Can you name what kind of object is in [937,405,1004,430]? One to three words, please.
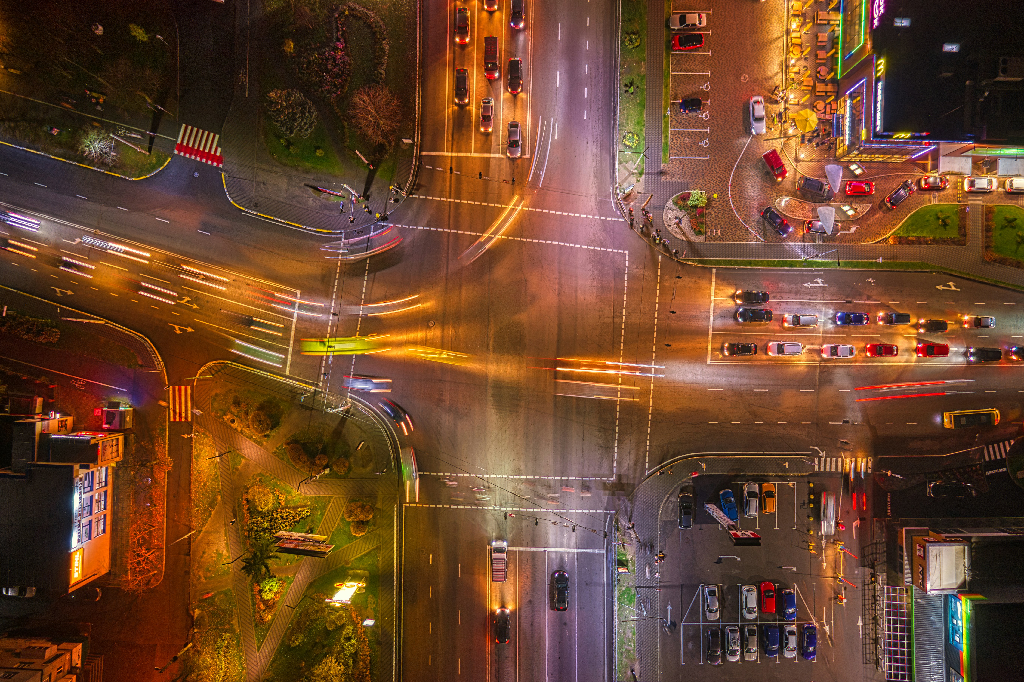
vehicle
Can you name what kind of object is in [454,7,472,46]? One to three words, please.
car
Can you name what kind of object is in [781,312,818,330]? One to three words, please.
car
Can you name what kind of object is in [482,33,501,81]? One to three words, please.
vehicle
